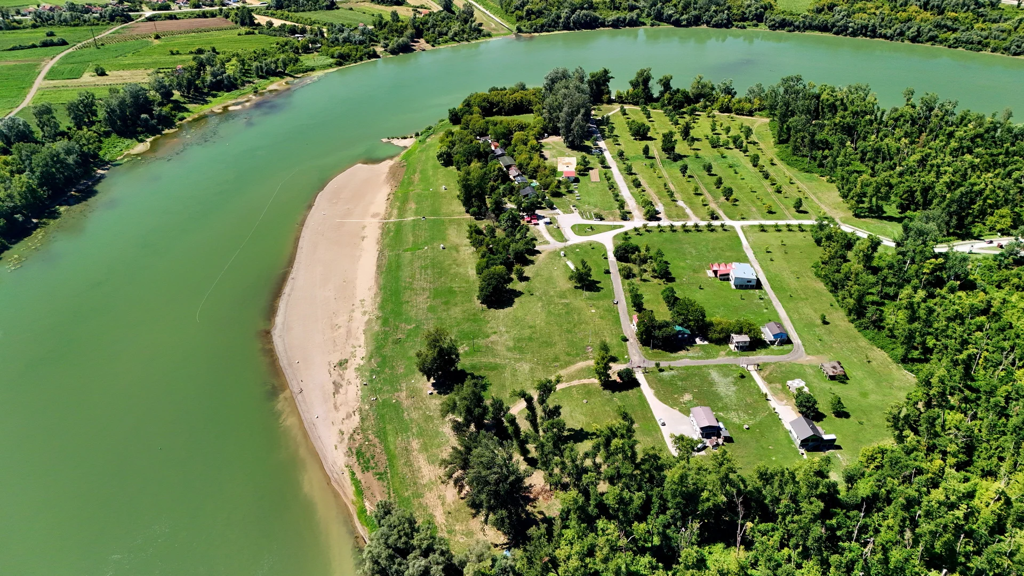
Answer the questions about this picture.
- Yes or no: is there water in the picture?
Yes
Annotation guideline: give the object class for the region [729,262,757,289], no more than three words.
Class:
house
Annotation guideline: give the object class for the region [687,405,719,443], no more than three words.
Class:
house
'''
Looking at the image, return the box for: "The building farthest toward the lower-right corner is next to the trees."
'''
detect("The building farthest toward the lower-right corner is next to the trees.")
[788,417,836,455]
